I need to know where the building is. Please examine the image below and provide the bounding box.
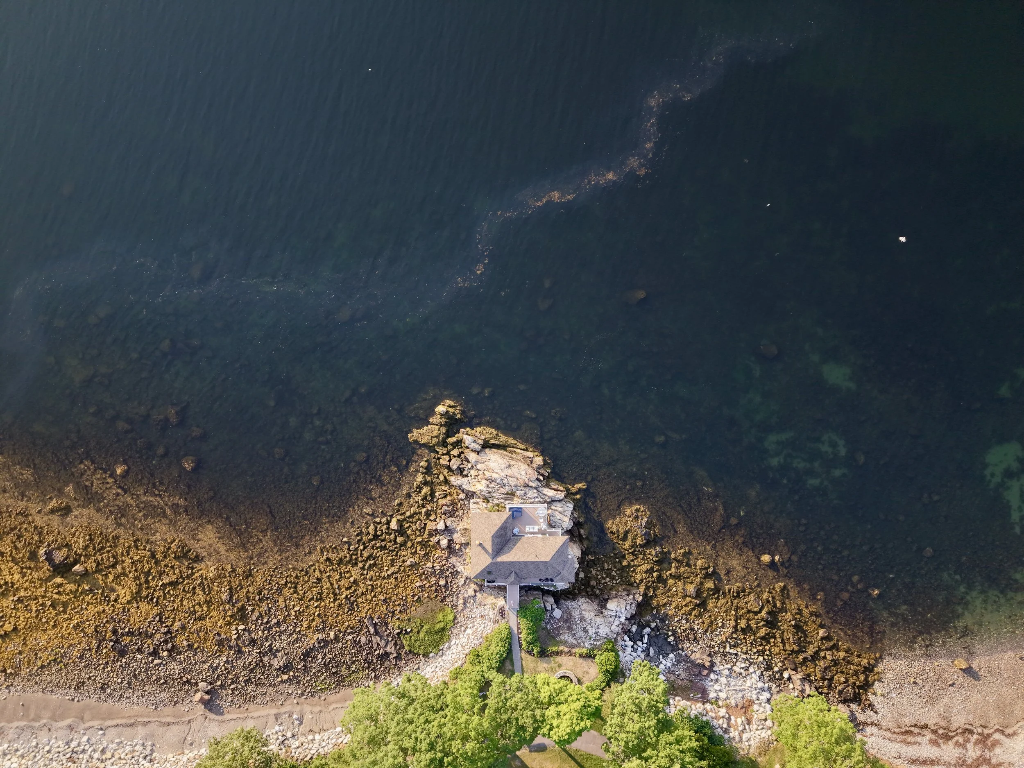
[470,503,575,586]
